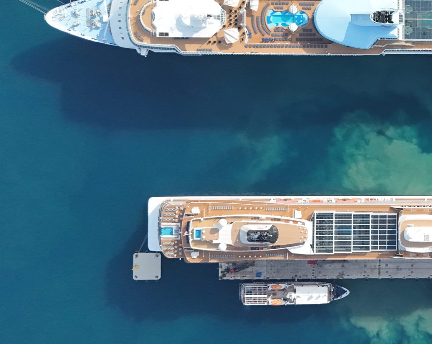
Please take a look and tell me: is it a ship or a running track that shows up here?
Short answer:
ship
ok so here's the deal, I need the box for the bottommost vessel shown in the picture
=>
[239,282,350,307]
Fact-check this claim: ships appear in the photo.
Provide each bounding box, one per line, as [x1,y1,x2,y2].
[239,282,350,307]
[42,0,432,56]
[149,191,432,263]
